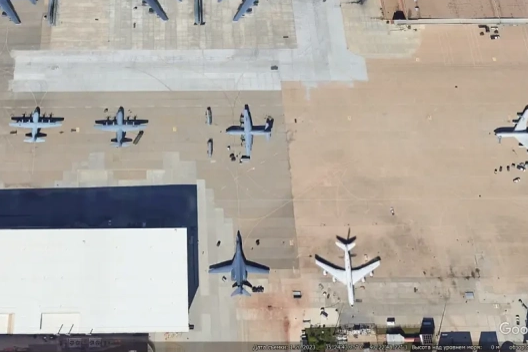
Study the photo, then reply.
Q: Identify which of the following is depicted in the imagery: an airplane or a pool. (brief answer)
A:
airplane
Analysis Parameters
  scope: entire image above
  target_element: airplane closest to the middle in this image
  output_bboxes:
[228,108,270,158]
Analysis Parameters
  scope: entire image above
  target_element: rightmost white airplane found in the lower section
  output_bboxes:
[316,238,381,307]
